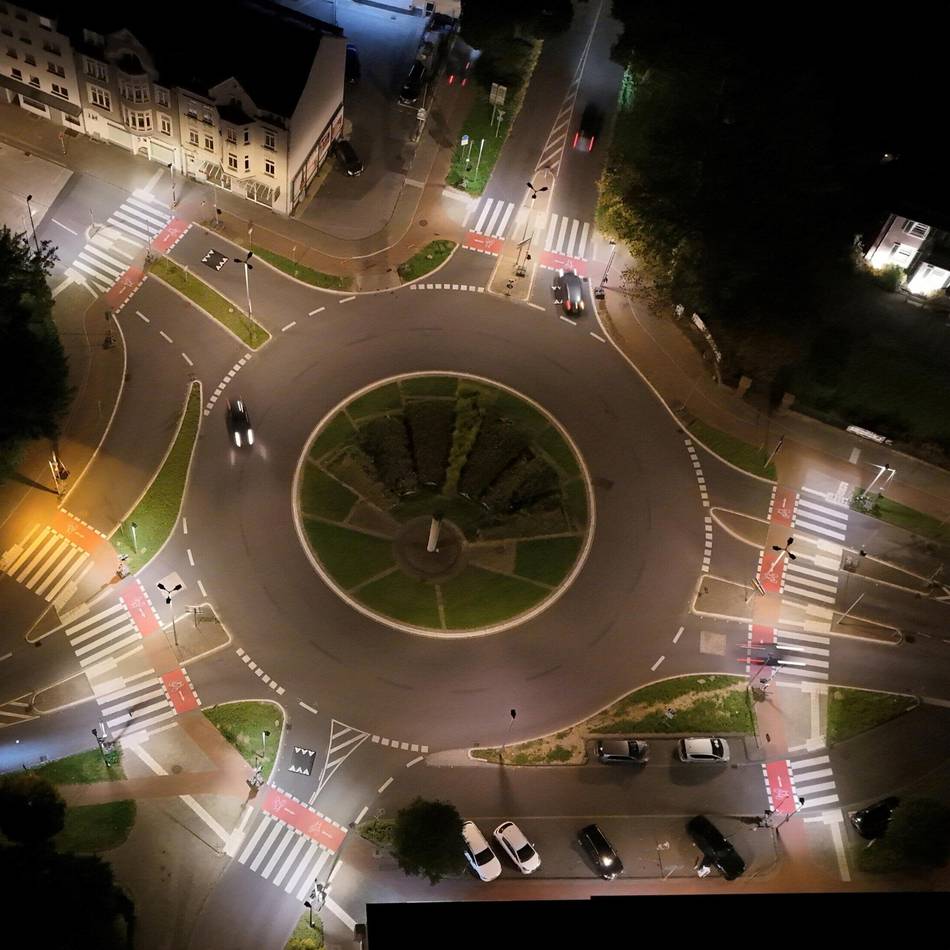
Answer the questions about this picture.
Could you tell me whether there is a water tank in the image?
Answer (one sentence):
No, no water tank can be seen from above.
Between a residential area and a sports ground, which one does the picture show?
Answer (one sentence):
This looks like a residential area.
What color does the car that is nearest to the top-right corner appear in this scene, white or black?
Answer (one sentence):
The car that is nearest to the top-right corner is black.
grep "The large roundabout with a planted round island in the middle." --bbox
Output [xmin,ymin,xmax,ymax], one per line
[207,307,678,722]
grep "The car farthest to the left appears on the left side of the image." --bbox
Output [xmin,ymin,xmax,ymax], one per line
[225,395,255,446]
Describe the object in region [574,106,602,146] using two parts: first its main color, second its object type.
black car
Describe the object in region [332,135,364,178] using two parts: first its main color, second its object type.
black car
